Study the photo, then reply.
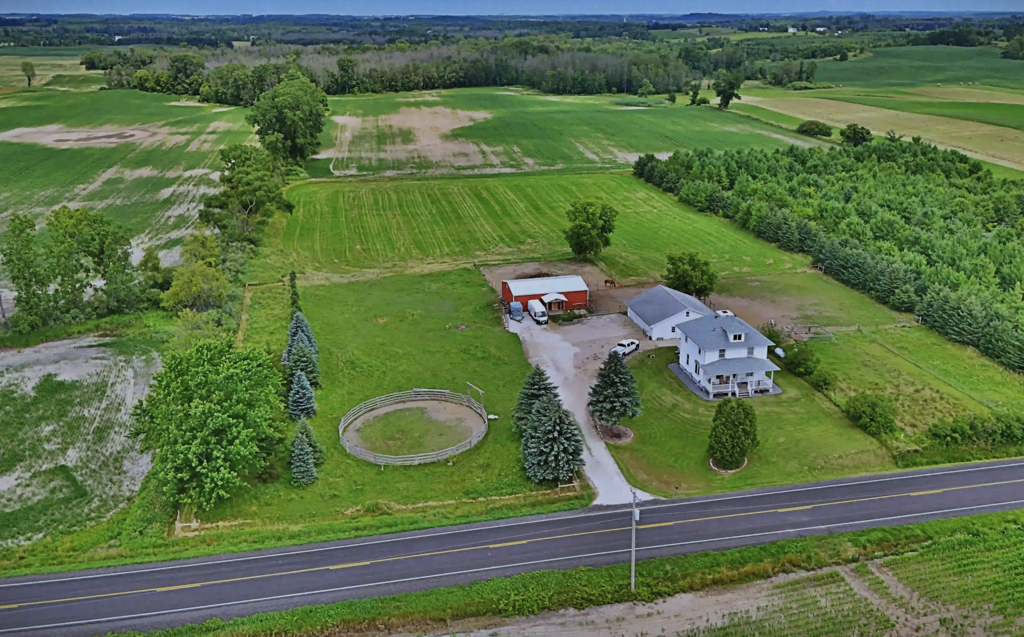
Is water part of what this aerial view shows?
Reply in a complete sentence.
No, there is no water in the image.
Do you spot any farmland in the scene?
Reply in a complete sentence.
Yes, the picture does contain farmland.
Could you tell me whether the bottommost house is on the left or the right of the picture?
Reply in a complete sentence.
It is on the right.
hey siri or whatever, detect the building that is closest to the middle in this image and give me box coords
[505,276,590,315]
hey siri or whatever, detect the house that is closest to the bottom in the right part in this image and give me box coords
[675,313,783,400]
